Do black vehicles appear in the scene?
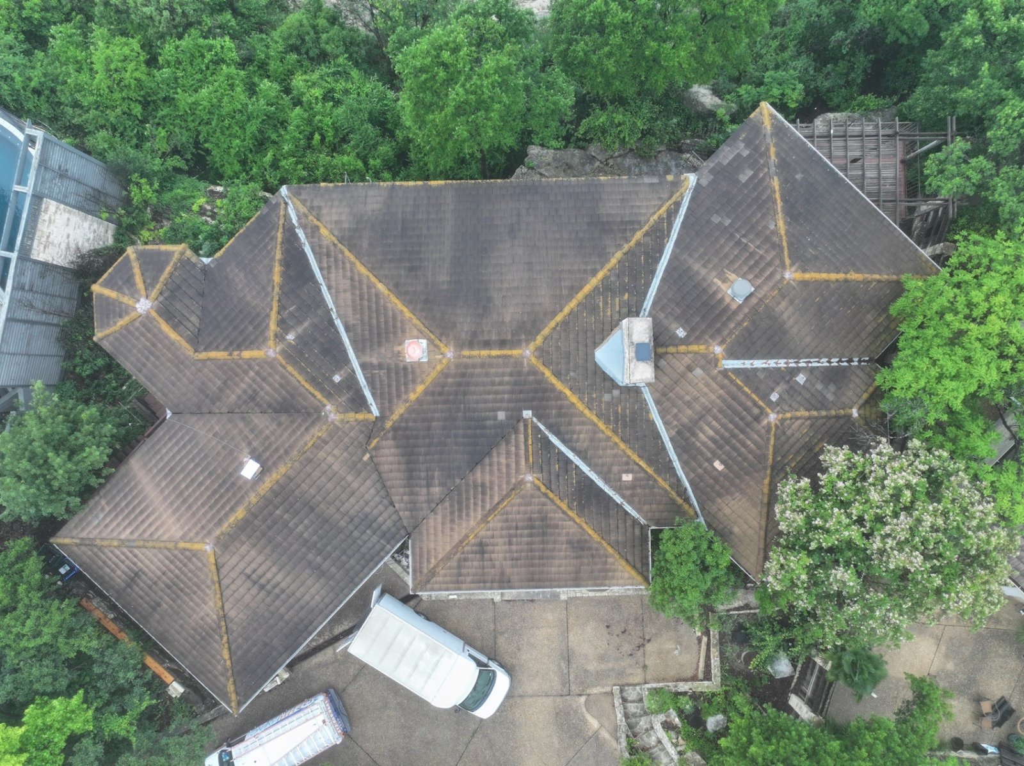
No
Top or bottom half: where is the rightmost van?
bottom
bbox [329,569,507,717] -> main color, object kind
white van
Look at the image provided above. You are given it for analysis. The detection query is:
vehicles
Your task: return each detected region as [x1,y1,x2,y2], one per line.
[215,677,359,766]
[329,569,507,717]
